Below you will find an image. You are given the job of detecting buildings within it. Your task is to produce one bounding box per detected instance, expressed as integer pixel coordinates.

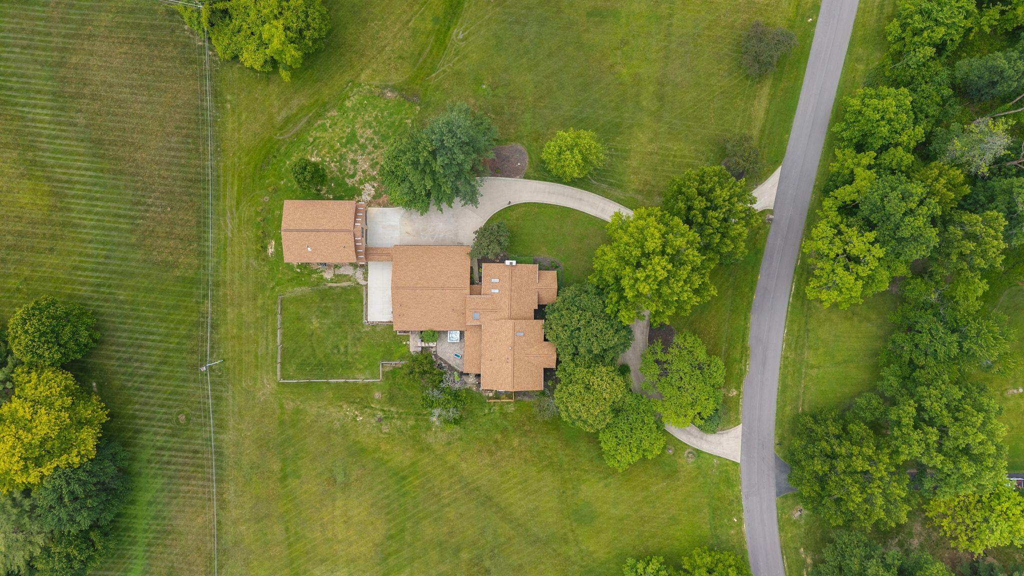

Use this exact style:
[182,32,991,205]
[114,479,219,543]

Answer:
[392,245,557,391]
[280,200,371,264]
